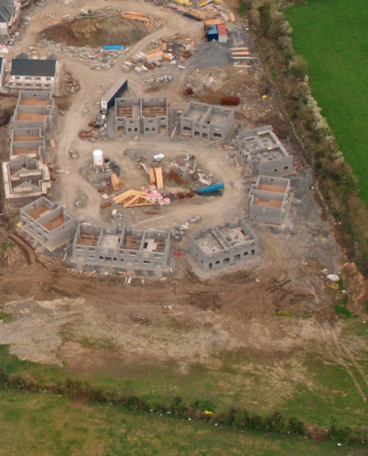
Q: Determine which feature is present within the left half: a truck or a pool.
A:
truck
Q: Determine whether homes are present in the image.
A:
Yes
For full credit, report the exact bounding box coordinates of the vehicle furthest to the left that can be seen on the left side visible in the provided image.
[93,79,127,122]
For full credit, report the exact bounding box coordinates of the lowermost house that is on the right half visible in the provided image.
[181,218,265,274]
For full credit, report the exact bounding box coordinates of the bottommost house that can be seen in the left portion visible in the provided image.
[69,224,174,270]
